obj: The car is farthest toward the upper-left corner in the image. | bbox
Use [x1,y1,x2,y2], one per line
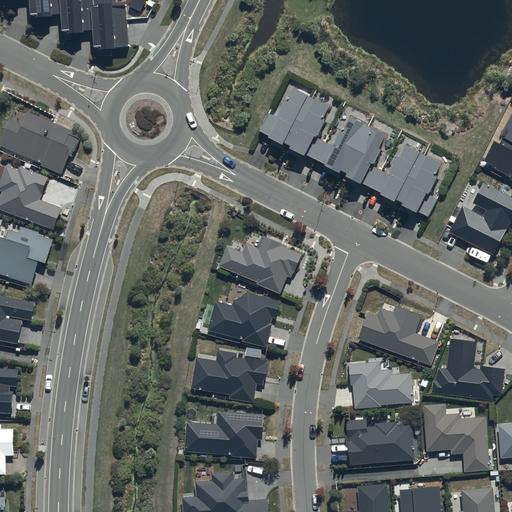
[66,162,82,175]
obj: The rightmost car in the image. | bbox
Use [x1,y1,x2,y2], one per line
[488,350,503,364]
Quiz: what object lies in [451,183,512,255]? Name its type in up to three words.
house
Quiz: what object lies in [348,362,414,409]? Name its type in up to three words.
house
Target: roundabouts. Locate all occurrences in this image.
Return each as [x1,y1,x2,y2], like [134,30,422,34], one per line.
[102,75,190,163]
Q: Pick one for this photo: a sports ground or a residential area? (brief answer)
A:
residential area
